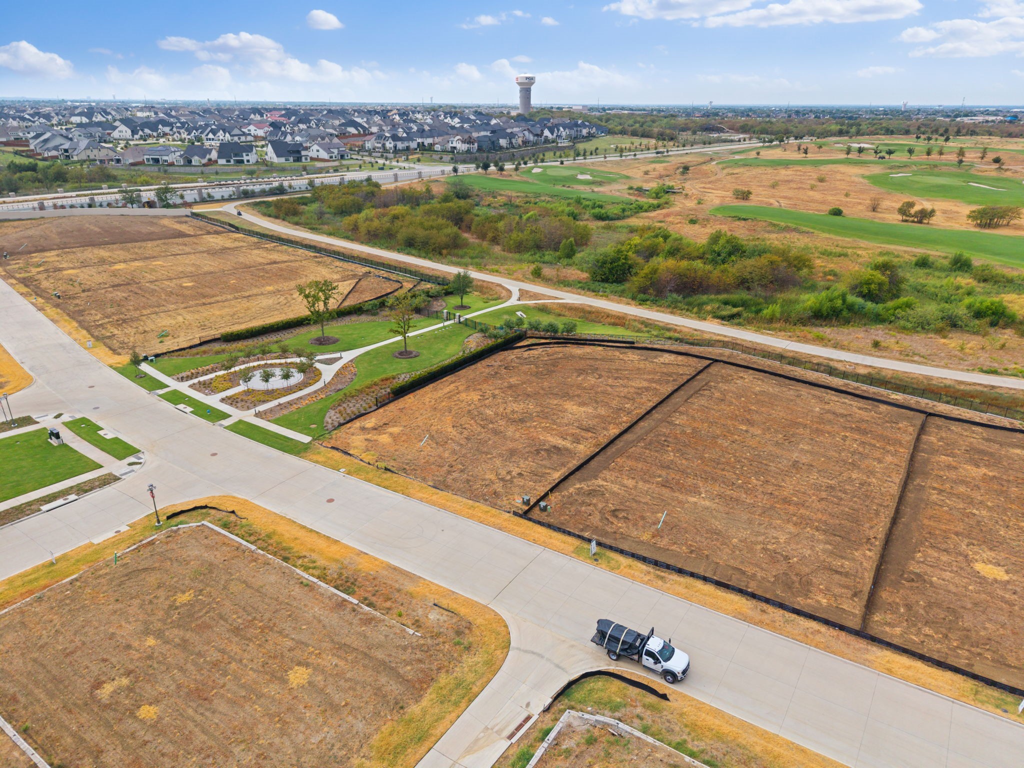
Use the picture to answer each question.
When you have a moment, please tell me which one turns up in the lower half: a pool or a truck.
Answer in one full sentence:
Visible in the lower half is a truck.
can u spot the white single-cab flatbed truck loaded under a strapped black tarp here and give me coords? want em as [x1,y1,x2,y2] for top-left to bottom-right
[592,621,694,681]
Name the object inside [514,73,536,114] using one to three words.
water tower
